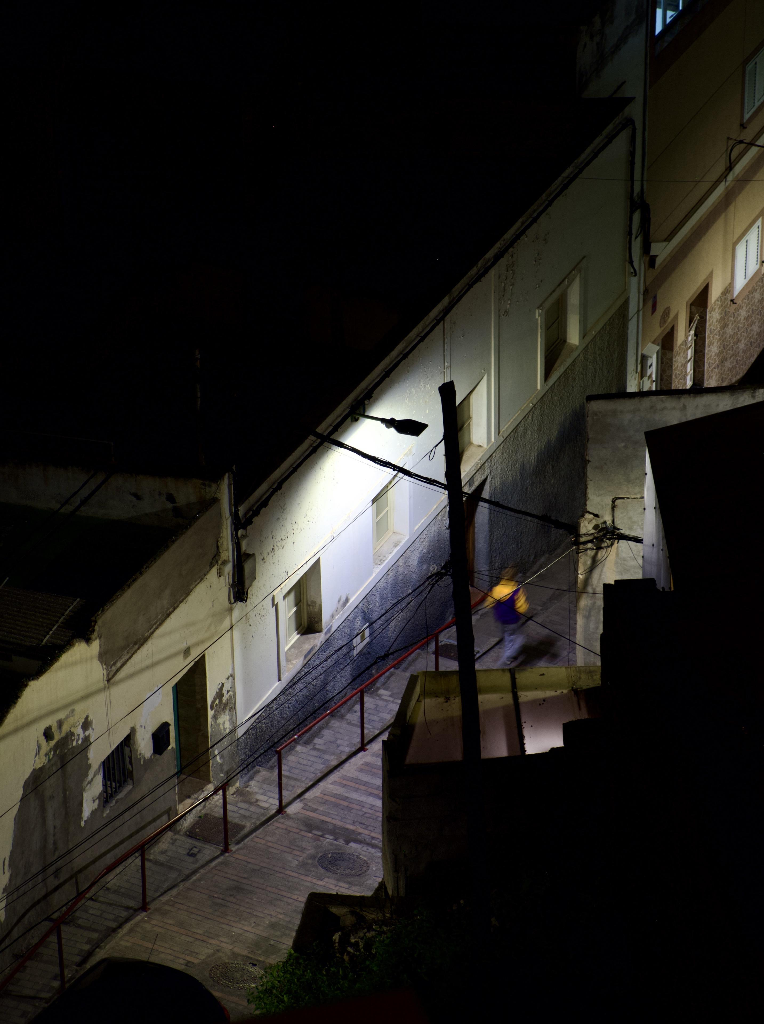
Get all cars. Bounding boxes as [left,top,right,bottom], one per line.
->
[32,921,231,1024]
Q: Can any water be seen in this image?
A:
No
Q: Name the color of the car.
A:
black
